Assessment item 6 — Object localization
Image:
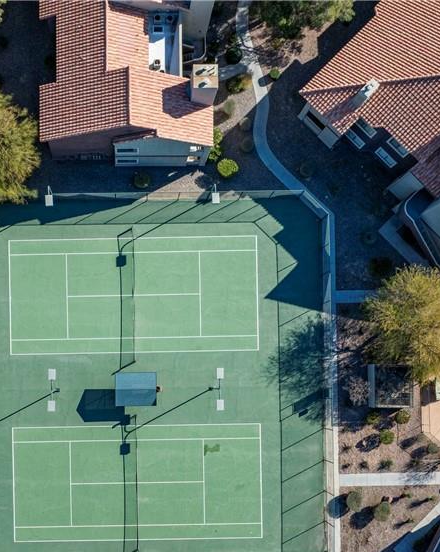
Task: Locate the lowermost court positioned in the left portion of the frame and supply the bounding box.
[12,424,263,543]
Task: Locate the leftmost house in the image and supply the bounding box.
[38,0,219,166]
